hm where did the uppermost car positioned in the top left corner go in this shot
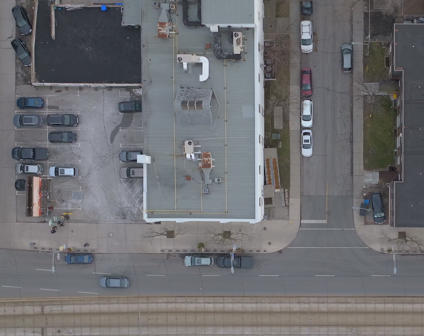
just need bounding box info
[10,4,32,36]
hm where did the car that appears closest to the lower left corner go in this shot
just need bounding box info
[65,252,93,266]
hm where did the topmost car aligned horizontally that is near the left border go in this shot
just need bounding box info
[17,96,45,109]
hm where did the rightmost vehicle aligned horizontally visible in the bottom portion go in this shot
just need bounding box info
[217,255,253,270]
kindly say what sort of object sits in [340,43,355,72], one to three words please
car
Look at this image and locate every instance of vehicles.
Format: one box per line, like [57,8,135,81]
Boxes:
[17,96,45,109]
[16,161,44,176]
[300,20,313,53]
[340,43,355,72]
[10,4,32,36]
[14,113,44,128]
[299,98,313,128]
[299,68,313,96]
[300,0,313,16]
[48,129,77,144]
[12,145,49,161]
[65,252,93,266]
[15,180,26,191]
[46,112,78,127]
[120,165,143,180]
[120,149,142,163]
[300,129,313,156]
[185,255,214,269]
[119,100,142,113]
[217,255,253,270]
[49,164,78,179]
[9,37,31,67]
